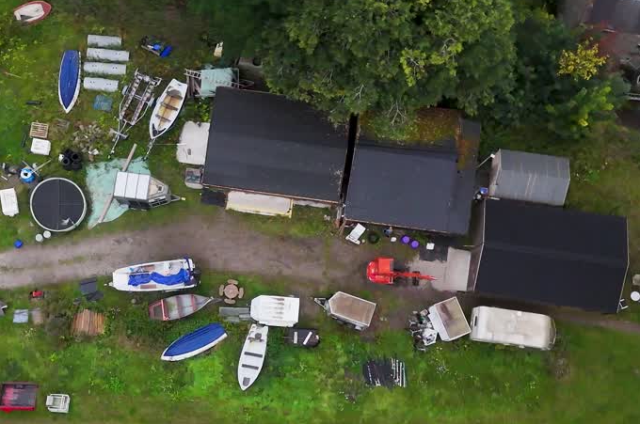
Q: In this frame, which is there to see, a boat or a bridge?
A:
boat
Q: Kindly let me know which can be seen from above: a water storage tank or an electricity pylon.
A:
water storage tank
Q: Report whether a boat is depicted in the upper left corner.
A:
Yes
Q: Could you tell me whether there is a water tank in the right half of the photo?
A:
No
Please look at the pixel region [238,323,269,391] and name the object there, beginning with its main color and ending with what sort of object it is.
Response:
white boat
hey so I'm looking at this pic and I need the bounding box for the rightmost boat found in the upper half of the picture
[154,80,187,136]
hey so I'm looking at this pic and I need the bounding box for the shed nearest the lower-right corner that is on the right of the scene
[466,198,629,314]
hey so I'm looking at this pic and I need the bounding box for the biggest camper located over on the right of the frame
[468,308,559,350]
